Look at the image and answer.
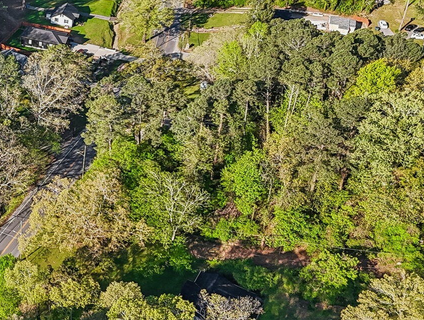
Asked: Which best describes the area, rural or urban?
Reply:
rural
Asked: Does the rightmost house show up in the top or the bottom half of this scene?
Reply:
top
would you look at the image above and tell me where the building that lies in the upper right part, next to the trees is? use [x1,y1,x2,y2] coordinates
[328,14,361,34]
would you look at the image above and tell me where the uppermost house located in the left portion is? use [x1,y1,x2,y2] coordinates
[47,0,82,27]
